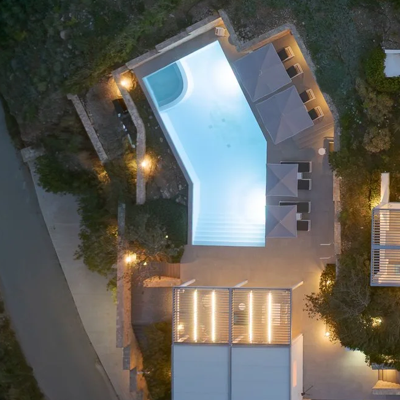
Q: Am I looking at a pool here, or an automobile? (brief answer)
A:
pool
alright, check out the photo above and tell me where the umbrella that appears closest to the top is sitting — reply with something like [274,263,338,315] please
[232,42,292,102]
